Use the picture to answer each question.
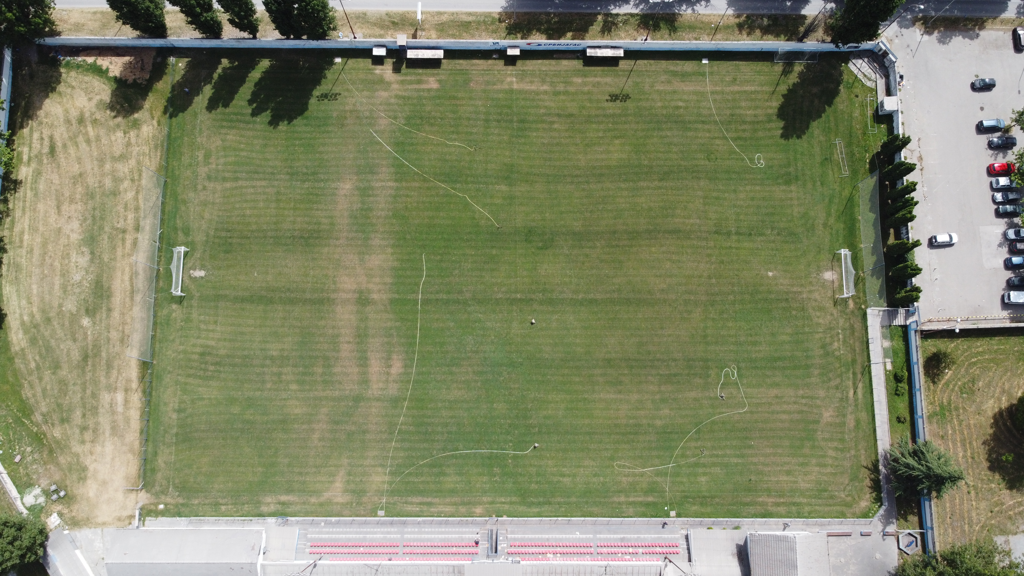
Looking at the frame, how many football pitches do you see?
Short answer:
1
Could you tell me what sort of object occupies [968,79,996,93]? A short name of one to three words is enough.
car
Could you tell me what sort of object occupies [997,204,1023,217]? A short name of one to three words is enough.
vehicle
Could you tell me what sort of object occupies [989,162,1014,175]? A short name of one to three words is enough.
vehicle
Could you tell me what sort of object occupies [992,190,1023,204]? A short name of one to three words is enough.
car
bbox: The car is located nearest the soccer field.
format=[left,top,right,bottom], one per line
[929,232,958,246]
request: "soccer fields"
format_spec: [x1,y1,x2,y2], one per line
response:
[137,49,891,518]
